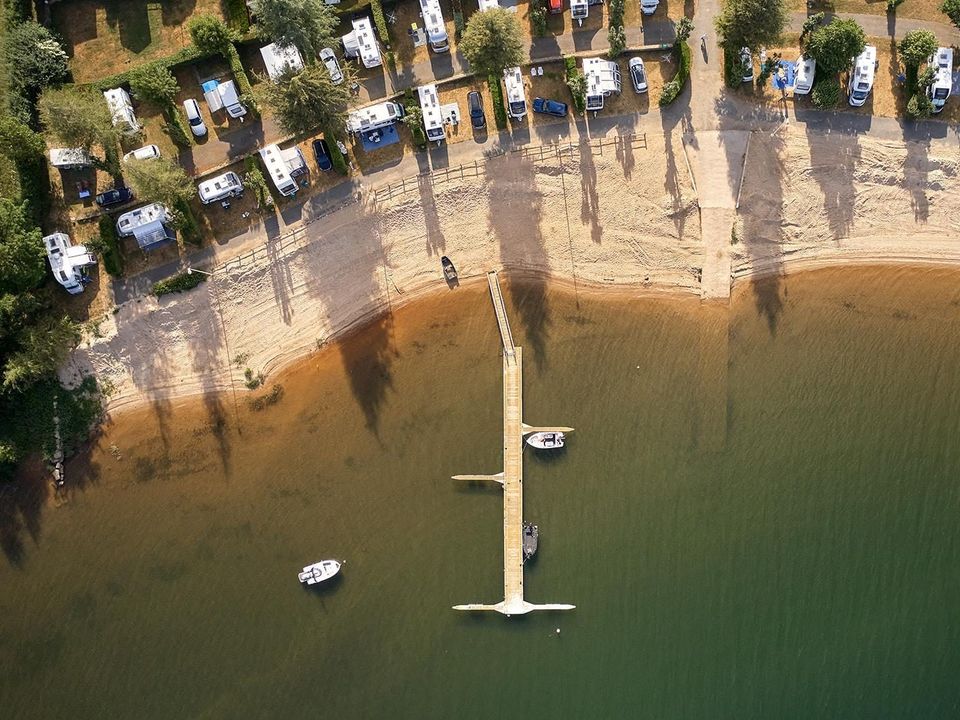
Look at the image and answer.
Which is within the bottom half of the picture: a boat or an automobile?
boat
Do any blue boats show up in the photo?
No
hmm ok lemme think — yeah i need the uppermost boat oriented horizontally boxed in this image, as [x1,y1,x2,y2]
[523,431,567,451]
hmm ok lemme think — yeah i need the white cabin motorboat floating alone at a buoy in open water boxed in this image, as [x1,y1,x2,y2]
[298,562,340,584]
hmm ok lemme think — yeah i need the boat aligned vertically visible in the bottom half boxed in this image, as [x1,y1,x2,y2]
[522,522,538,564]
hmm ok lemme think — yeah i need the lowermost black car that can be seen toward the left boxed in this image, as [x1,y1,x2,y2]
[96,188,136,210]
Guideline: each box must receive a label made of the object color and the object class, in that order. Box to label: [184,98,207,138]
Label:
white car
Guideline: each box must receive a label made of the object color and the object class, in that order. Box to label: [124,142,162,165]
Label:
white car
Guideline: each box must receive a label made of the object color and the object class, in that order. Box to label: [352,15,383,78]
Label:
white camper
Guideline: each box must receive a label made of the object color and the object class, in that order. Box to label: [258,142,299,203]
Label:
white camper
